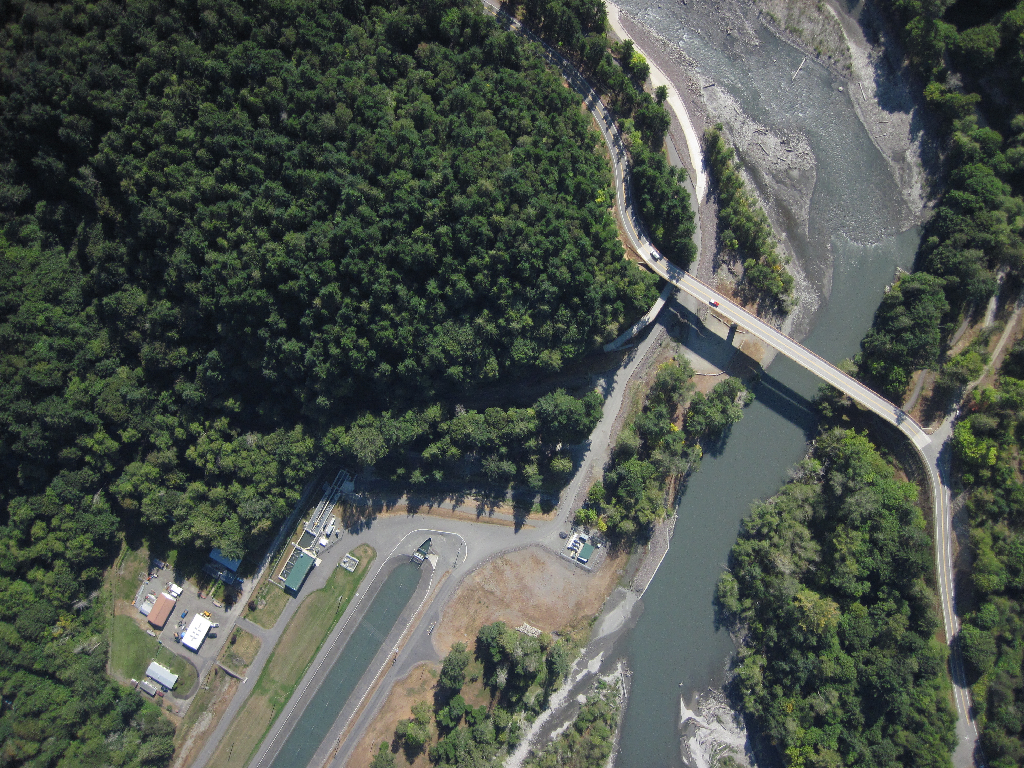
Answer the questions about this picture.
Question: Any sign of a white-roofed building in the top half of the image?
No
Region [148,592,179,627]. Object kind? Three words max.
shed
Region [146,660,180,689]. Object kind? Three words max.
house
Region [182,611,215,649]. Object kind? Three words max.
building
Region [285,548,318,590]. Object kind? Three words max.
building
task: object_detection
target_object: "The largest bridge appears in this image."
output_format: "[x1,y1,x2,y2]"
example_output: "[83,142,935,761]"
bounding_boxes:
[637,242,933,449]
